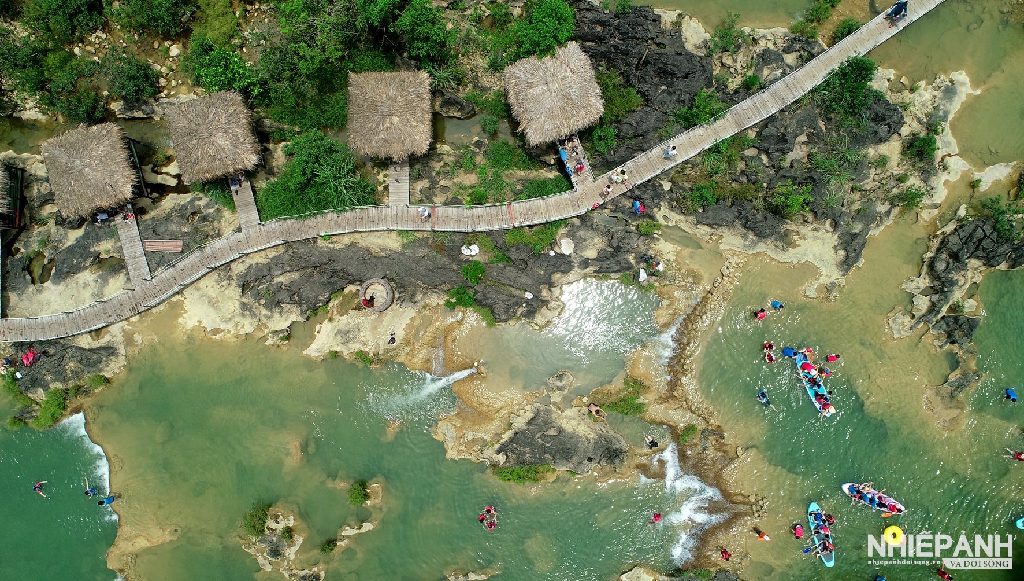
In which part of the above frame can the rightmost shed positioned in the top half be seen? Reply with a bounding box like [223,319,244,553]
[500,41,607,149]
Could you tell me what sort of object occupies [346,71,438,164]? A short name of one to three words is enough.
shed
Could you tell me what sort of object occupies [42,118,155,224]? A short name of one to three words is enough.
shed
